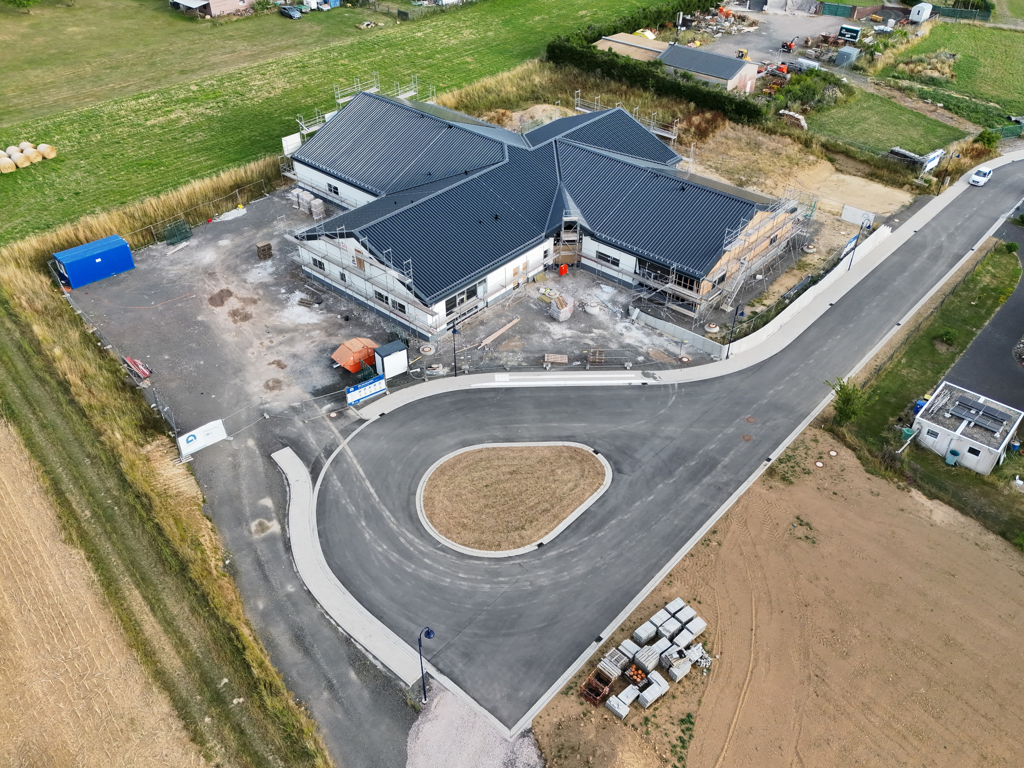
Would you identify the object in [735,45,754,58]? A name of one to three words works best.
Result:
vehicle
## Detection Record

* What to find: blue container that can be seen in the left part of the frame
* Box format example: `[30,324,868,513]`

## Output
[53,236,134,289]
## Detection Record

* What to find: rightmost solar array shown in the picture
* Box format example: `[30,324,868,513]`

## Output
[936,397,1008,440]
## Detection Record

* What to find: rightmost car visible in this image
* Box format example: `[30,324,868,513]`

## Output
[970,167,997,184]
